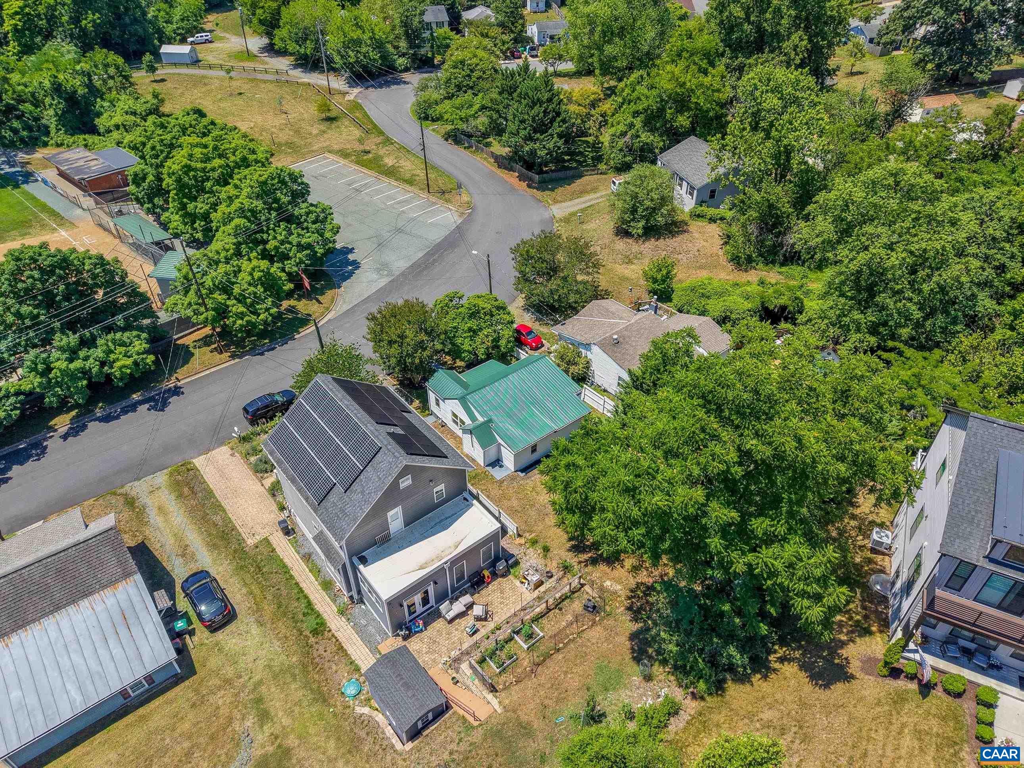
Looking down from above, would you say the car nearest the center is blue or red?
red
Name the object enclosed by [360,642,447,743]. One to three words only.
shed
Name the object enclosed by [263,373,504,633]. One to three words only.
house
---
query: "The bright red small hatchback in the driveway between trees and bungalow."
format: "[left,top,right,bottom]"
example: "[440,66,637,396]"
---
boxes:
[510,321,548,353]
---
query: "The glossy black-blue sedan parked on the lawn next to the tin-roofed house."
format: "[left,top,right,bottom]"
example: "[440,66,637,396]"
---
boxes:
[176,563,235,640]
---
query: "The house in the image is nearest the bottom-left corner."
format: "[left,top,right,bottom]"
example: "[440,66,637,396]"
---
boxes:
[0,511,180,768]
